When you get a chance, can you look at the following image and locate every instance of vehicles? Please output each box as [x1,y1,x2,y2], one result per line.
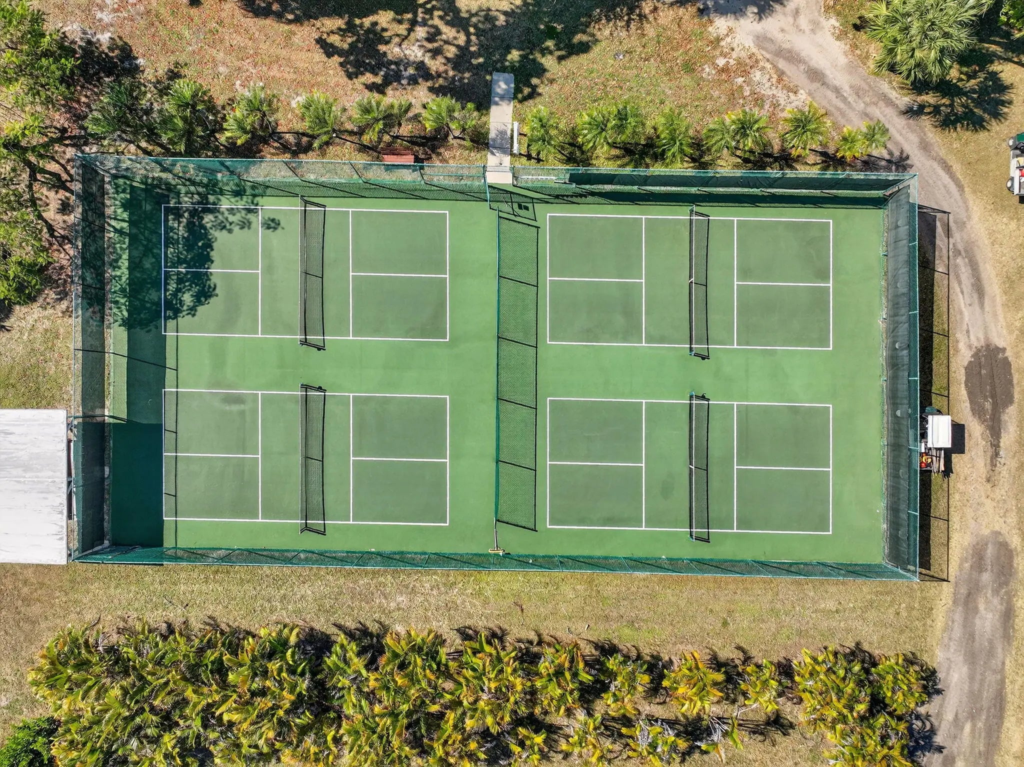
[909,405,951,471]
[1006,133,1024,197]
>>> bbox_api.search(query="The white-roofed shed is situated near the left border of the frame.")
[0,408,82,565]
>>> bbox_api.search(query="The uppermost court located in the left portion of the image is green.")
[162,205,449,341]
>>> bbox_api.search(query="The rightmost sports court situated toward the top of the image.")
[548,214,832,349]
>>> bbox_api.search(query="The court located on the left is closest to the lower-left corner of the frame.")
[163,389,449,526]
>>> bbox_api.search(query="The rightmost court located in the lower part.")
[548,398,832,534]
